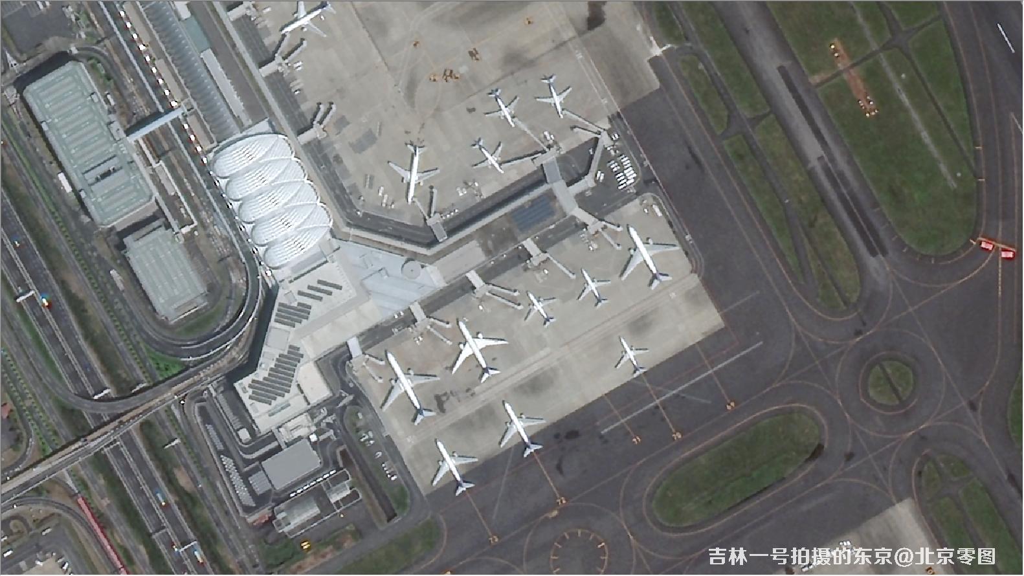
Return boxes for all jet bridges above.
[467,271,523,310]
[298,104,337,144]
[588,219,623,250]
[228,0,259,20]
[499,118,557,169]
[409,301,452,345]
[348,338,387,383]
[562,109,614,146]
[524,239,576,280]
[260,33,307,77]
[412,189,447,241]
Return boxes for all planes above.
[578,269,611,309]
[622,226,682,292]
[616,337,650,379]
[526,292,559,330]
[281,0,338,37]
[454,322,510,386]
[535,73,571,118]
[502,401,546,459]
[382,352,441,426]
[388,142,440,204]
[472,136,503,173]
[433,440,478,497]
[484,86,518,127]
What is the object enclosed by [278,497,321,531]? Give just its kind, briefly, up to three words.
building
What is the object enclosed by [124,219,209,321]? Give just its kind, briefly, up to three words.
building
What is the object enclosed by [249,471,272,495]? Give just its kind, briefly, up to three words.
shed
